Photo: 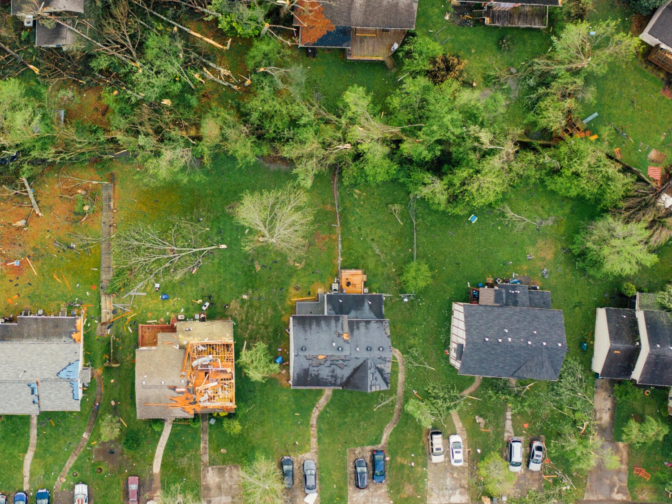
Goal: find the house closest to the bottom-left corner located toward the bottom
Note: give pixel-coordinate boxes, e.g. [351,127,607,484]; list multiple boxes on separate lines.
[0,316,91,416]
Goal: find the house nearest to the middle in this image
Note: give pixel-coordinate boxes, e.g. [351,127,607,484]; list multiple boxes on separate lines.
[290,270,395,394]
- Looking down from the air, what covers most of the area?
grass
